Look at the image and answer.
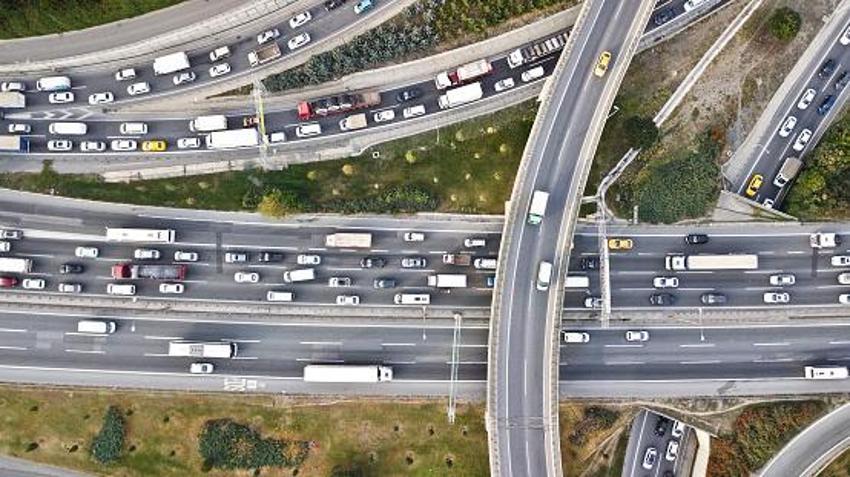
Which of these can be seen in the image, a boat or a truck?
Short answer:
truck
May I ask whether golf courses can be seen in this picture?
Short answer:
No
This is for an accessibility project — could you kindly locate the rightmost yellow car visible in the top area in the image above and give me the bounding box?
[745,173,764,197]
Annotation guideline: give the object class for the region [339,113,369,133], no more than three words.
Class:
vehicle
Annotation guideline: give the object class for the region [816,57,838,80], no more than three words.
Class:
car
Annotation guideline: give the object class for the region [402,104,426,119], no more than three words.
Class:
car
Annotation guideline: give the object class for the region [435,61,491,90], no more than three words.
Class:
truck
